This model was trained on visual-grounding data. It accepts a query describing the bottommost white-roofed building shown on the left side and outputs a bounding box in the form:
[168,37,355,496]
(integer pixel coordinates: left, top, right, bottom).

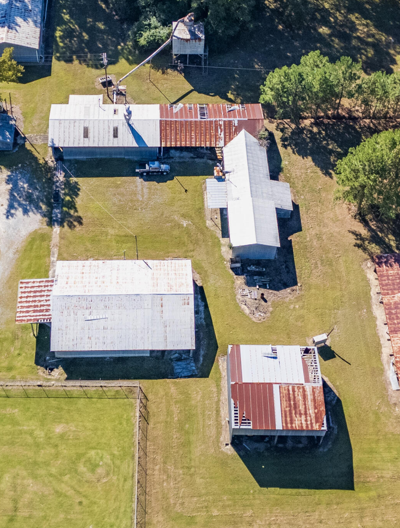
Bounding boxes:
[16,260,194,357]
